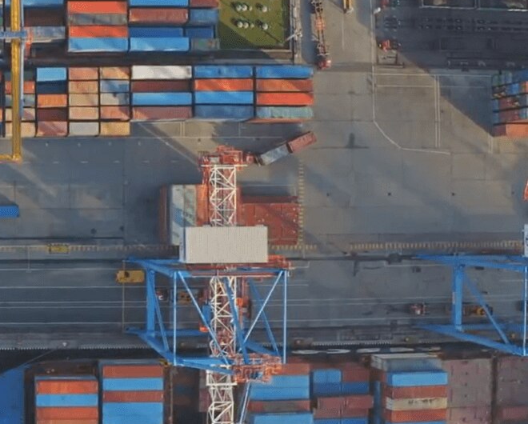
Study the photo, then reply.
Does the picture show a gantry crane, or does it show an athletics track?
gantry crane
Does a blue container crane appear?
Yes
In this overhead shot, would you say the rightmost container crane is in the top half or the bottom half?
bottom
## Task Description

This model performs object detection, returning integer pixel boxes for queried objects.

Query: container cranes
[0,0,37,165]
[118,141,294,424]
[402,225,528,369]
